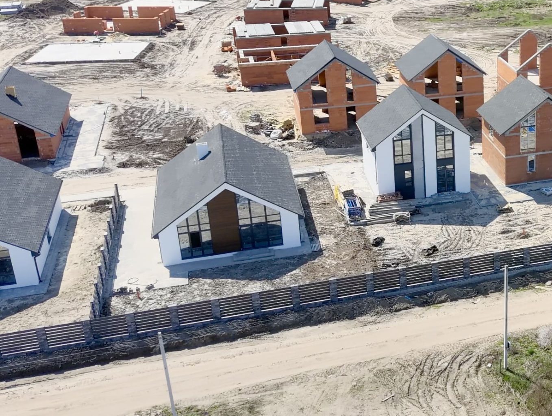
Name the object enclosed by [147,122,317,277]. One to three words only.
house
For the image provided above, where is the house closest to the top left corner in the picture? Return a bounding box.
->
[0,66,72,162]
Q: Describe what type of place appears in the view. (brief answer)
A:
residential area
